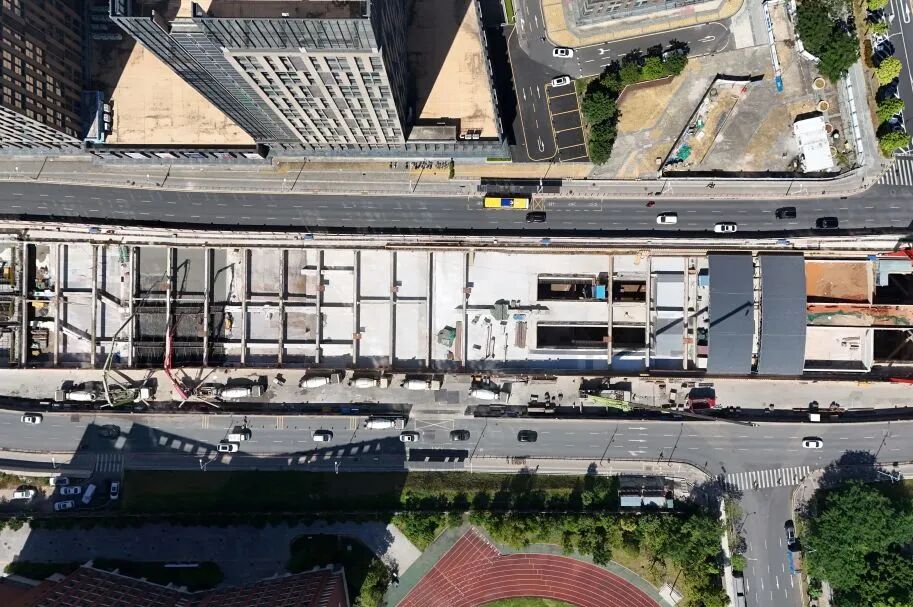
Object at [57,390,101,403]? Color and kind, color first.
white vehicle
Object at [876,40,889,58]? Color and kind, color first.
black vehicle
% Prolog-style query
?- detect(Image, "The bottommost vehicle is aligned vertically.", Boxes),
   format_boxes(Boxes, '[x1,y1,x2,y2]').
[734,577,746,603]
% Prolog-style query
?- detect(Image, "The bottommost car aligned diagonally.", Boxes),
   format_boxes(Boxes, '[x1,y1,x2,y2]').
[79,483,98,505]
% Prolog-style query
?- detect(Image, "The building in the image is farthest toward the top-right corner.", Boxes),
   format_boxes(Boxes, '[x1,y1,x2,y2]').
[788,116,835,174]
